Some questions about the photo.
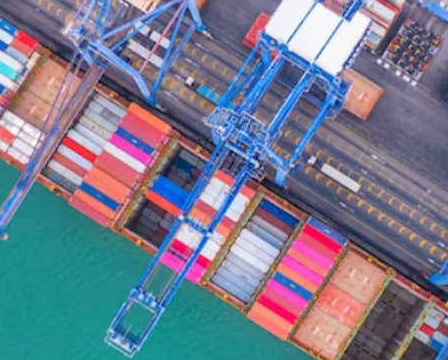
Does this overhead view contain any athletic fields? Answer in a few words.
No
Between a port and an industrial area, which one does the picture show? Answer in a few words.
port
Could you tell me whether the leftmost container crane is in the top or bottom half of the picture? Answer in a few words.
top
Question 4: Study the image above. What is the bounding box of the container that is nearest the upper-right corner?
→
[419,0,448,26]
